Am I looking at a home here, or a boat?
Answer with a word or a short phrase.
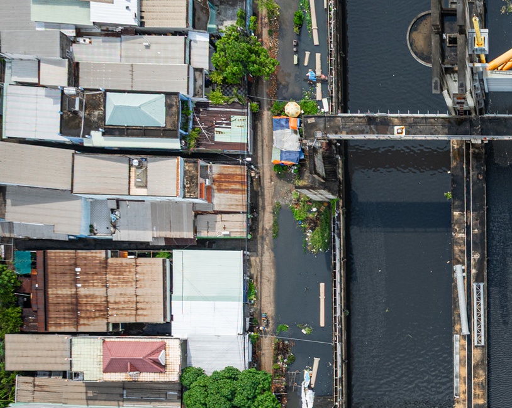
home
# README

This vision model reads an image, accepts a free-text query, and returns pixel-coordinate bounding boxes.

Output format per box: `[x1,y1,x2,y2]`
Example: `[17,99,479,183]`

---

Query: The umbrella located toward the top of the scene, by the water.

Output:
[285,103,301,116]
